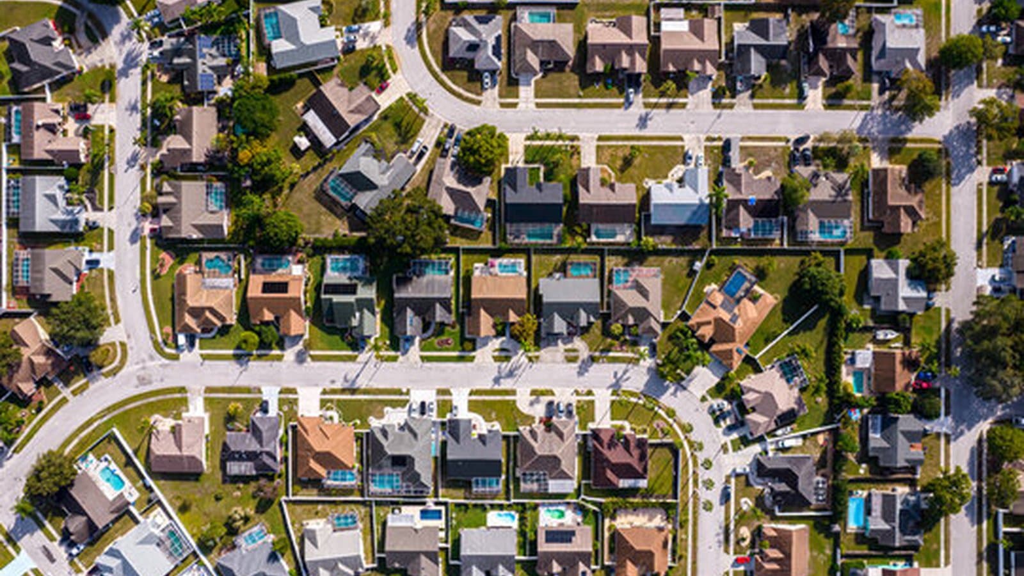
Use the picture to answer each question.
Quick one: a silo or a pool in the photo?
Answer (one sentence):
It is a pool that can be seen here.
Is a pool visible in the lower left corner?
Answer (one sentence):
Yes, a pool can be seen in the lower left corner.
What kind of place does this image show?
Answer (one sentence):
The area seen from above is a residential area.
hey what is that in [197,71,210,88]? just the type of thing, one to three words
solar panel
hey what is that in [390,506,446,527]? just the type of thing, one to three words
swimming pool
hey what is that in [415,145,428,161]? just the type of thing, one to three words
vehicle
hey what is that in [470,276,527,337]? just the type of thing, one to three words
house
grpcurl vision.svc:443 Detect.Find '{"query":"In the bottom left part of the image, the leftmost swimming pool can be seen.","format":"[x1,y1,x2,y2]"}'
[85,455,131,497]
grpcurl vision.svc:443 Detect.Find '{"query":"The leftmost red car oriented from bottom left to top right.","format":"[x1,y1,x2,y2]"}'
[375,81,390,95]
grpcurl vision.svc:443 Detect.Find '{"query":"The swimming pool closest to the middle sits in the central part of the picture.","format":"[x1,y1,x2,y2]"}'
[489,258,525,275]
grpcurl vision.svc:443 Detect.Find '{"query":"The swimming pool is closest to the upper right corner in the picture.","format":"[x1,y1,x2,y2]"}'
[892,9,923,23]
